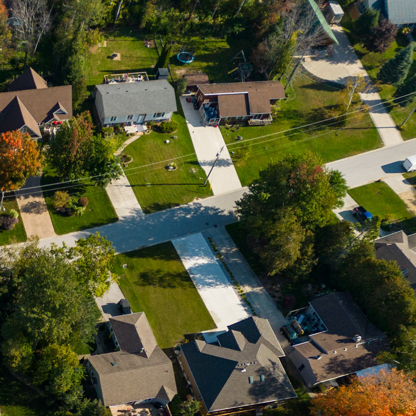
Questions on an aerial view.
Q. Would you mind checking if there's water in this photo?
No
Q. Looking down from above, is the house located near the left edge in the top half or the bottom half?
top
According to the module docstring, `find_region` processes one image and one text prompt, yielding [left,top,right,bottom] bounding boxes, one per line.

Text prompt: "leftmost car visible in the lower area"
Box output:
[117,292,133,314]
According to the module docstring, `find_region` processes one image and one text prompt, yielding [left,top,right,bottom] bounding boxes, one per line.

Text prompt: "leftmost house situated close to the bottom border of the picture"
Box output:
[85,312,178,415]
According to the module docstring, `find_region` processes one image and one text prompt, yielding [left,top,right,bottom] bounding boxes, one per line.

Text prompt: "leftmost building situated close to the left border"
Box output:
[0,56,73,148]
